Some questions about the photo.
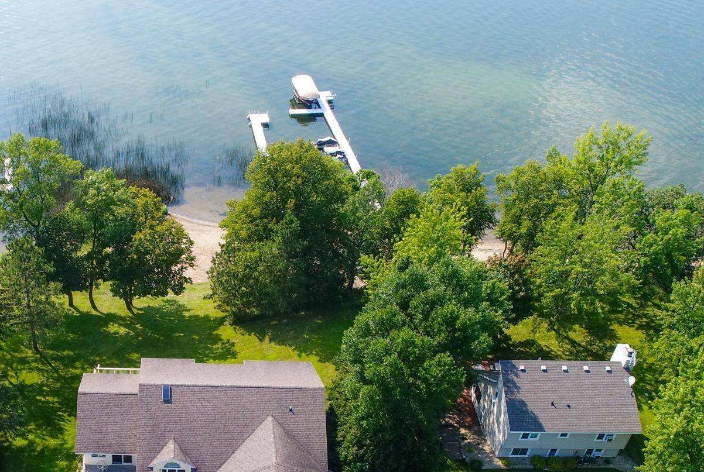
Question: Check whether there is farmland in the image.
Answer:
No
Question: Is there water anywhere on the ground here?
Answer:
Yes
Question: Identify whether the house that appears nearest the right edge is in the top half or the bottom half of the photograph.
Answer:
bottom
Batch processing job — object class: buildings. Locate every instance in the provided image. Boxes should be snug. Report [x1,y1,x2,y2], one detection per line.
[473,336,648,458]
[75,359,328,472]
